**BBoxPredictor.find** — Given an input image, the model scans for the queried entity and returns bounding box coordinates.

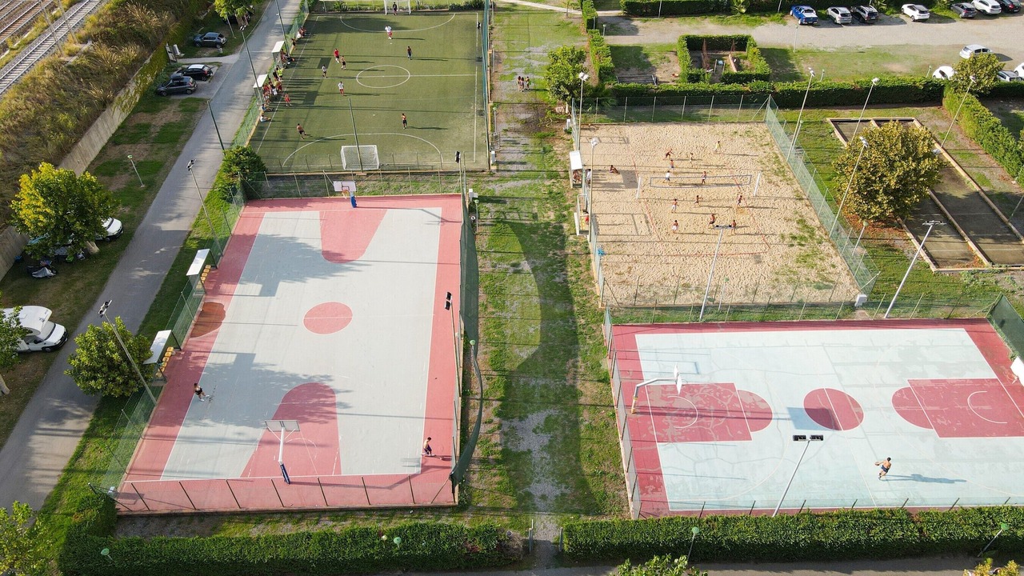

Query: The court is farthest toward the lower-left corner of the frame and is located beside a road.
[114,193,460,513]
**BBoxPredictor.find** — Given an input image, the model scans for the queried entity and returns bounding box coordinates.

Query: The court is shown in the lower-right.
[607,315,1024,524]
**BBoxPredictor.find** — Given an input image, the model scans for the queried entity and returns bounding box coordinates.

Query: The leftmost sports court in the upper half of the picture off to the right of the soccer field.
[575,118,866,308]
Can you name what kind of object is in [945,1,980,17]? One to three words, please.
car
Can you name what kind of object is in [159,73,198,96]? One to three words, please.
car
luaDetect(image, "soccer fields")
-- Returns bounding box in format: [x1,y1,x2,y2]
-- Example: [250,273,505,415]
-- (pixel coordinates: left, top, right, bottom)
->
[238,9,487,173]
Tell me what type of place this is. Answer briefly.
sports ground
